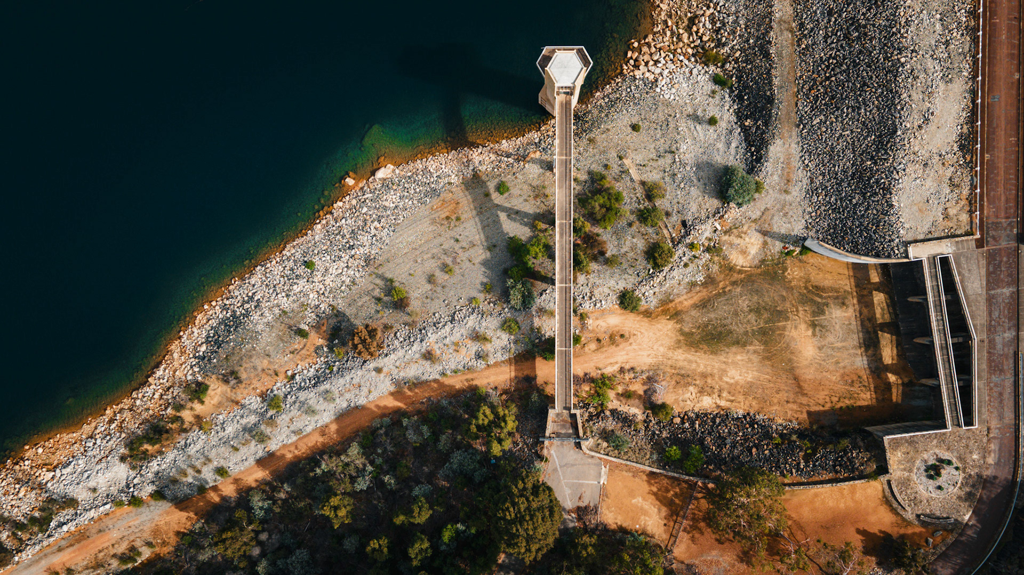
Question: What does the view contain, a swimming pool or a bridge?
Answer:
bridge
